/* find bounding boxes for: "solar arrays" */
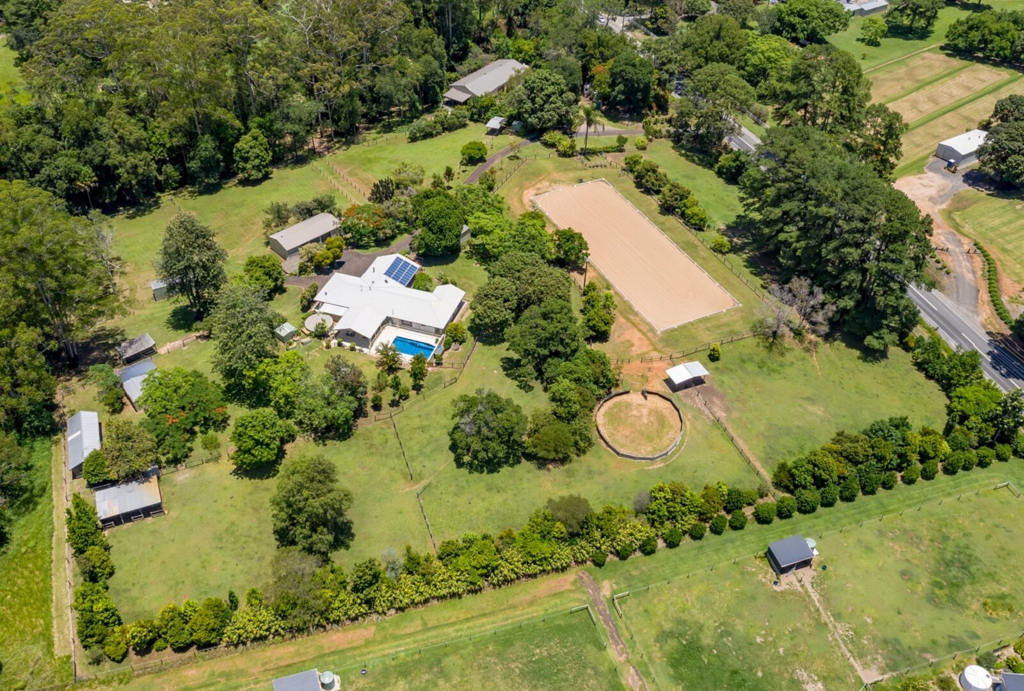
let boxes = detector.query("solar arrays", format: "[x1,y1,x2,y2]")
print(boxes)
[385,257,418,284]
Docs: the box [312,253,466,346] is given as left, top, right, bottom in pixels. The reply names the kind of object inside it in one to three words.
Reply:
house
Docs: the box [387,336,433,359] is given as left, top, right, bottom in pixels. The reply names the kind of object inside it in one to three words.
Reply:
swimming pool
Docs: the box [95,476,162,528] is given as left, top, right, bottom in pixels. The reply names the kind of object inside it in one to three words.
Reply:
building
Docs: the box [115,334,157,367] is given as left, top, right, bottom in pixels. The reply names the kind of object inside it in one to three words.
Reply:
shed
